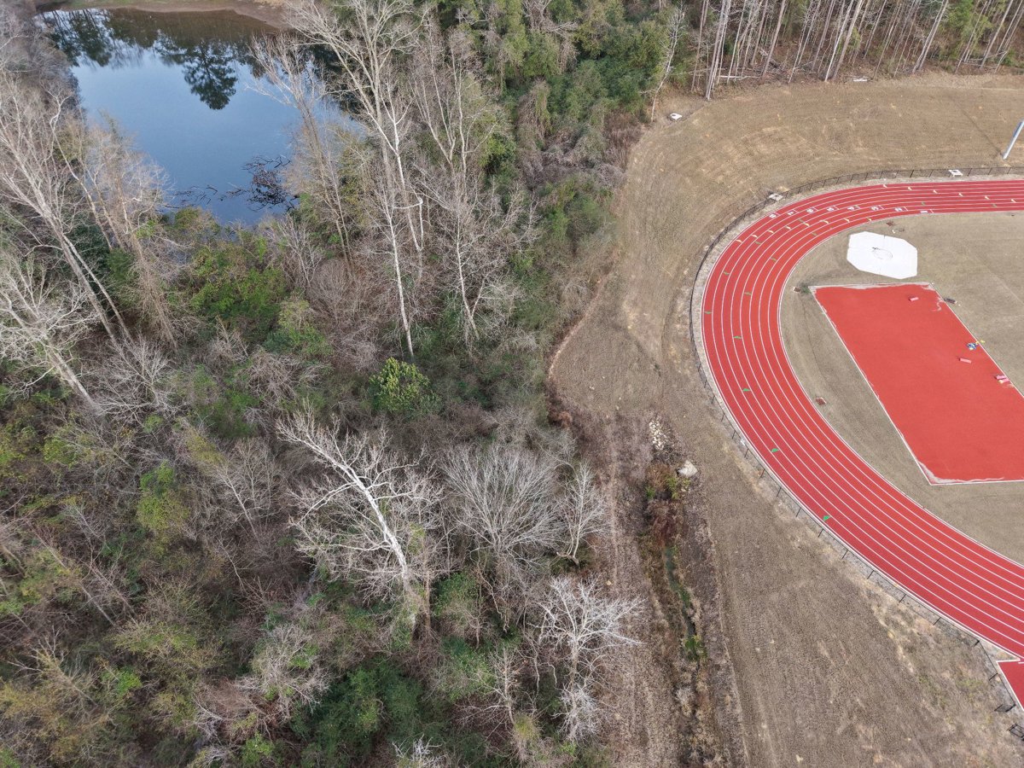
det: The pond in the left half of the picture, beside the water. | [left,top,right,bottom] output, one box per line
[36,7,379,234]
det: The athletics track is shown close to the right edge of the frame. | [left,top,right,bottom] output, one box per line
[698,178,1024,660]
